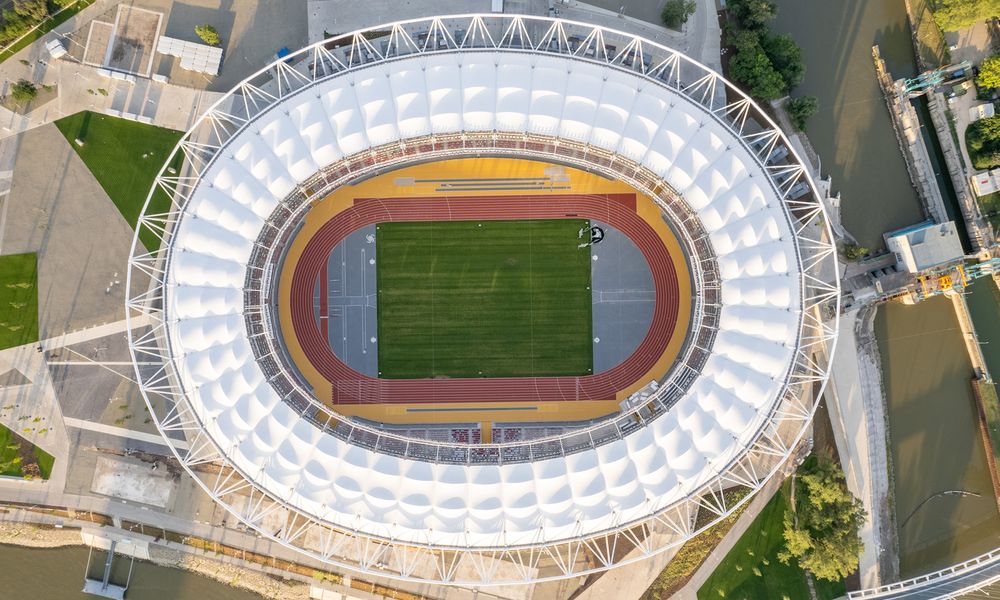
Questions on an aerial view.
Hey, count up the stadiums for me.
one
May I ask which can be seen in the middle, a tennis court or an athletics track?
athletics track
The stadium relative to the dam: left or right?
to its left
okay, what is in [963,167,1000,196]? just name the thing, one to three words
house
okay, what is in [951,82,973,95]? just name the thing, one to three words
vehicle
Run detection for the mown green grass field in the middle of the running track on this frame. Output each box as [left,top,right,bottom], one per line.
[376,219,593,379]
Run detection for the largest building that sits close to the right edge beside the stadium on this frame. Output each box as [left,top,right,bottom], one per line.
[873,216,965,274]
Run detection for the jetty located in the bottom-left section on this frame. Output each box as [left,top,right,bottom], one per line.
[83,537,135,600]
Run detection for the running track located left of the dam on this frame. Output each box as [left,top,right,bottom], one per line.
[289,193,680,405]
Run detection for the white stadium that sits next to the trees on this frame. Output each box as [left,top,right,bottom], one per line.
[127,14,841,583]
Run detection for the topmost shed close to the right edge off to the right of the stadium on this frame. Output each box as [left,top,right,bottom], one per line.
[965,102,995,122]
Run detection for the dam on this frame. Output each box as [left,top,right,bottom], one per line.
[843,254,960,312]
